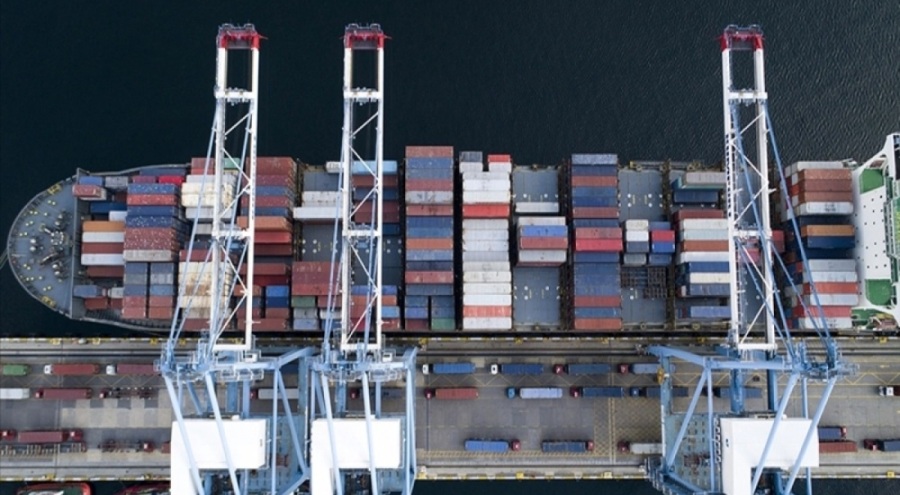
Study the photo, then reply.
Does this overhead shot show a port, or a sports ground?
port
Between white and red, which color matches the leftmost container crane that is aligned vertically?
white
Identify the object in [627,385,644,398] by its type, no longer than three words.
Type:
vehicle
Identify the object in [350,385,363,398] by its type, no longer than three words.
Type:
vehicle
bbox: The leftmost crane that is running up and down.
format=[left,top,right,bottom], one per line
[151,21,326,495]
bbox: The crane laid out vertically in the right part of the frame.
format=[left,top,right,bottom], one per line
[636,22,850,495]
